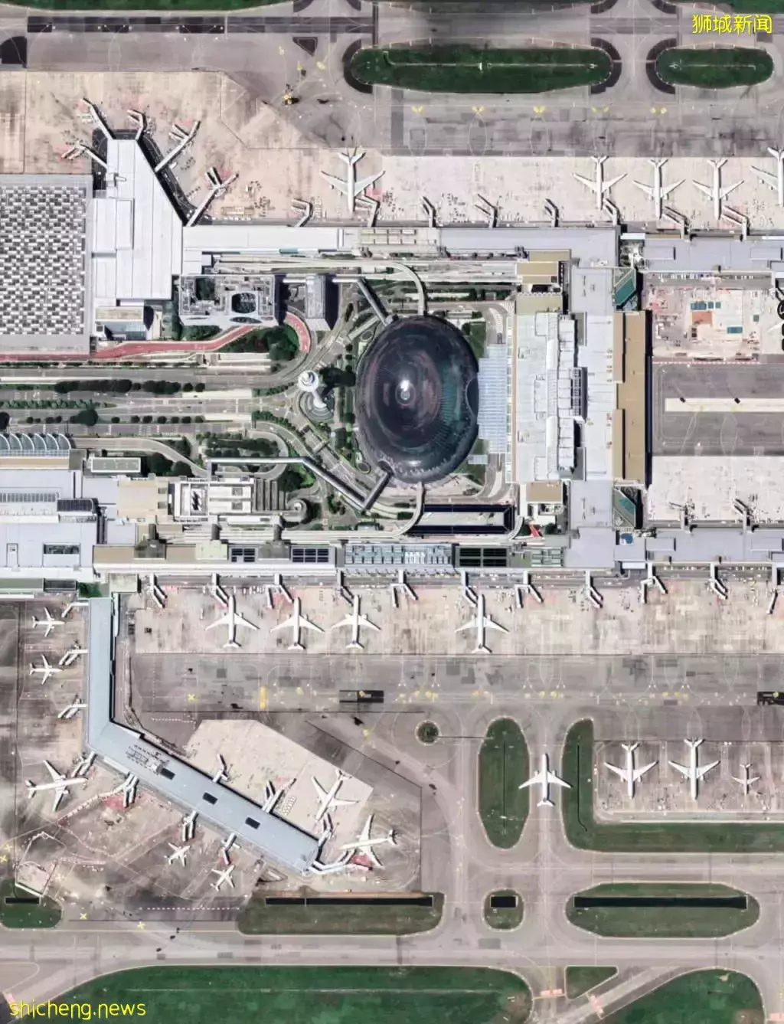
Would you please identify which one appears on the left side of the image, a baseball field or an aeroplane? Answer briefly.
aeroplane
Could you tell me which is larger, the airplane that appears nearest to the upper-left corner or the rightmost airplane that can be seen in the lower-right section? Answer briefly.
the airplane that appears nearest to the upper-left corner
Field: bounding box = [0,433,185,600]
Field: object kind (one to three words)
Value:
building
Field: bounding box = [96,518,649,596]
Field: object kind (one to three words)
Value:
building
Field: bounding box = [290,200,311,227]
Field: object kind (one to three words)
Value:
jet bridge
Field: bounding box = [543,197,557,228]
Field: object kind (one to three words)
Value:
jet bridge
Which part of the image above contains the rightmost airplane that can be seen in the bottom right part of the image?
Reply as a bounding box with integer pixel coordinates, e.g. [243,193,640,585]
[731,764,760,796]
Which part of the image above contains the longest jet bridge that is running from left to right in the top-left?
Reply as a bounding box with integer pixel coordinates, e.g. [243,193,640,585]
[60,143,107,169]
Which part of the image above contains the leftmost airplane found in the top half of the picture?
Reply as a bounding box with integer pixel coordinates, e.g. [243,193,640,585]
[318,146,383,214]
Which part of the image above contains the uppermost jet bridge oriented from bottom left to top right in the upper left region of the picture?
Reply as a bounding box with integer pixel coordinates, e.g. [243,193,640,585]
[156,121,202,173]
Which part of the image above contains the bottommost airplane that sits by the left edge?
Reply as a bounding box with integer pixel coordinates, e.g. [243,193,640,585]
[26,760,86,810]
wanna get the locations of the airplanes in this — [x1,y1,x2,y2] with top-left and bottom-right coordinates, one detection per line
[331,595,380,648]
[630,156,684,218]
[573,153,626,210]
[310,771,356,820]
[318,146,383,214]
[668,735,720,800]
[209,865,234,892]
[29,656,63,684]
[751,143,784,206]
[26,760,86,810]
[164,846,189,868]
[691,156,742,219]
[519,754,571,806]
[341,813,394,867]
[454,594,507,653]
[603,739,657,799]
[270,598,322,650]
[205,596,258,648]
[731,764,760,796]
